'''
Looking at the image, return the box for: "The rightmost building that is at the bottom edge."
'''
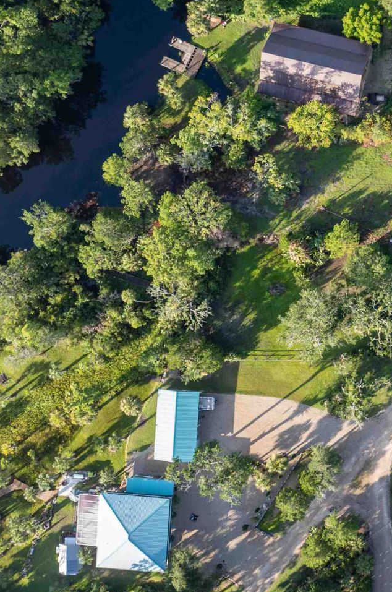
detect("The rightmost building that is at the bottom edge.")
[77,472,174,572]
